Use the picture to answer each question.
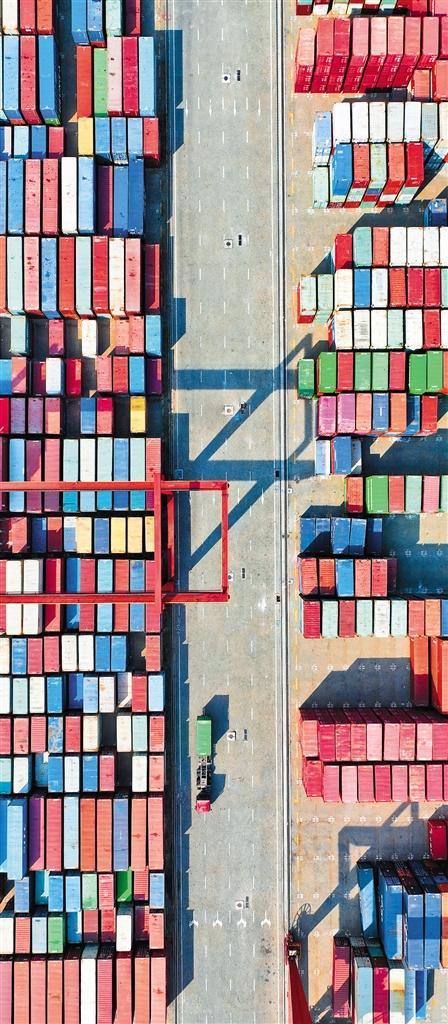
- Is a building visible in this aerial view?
No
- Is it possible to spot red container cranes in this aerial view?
Yes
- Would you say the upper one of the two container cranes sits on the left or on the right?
left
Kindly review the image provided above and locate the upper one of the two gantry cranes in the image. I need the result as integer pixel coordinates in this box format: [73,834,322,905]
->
[0,474,232,614]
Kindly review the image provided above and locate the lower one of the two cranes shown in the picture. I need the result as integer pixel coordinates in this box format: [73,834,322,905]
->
[285,926,312,1024]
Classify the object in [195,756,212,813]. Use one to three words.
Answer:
vehicle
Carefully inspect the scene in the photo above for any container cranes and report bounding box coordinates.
[285,926,312,1024]
[0,474,232,614]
